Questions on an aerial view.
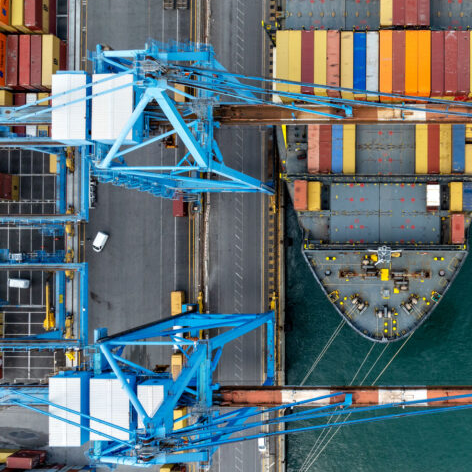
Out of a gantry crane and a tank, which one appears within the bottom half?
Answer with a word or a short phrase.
gantry crane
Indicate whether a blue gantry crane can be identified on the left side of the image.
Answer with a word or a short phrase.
Yes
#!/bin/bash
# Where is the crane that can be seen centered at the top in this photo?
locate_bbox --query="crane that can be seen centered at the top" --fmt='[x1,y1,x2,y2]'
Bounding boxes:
[0,40,472,215]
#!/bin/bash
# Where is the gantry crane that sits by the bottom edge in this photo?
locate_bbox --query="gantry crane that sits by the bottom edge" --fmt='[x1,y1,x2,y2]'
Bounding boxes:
[0,286,472,472]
